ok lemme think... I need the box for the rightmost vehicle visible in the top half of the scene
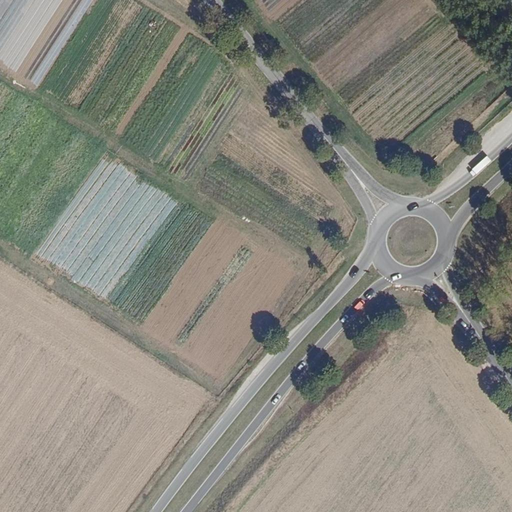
[470,156,492,176]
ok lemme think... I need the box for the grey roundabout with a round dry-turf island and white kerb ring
[345,178,475,304]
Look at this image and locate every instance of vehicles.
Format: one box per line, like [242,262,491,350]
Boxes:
[392,274,402,280]
[364,289,374,299]
[340,314,350,324]
[296,361,306,372]
[408,202,419,210]
[470,156,492,176]
[355,300,366,310]
[350,266,359,276]
[272,394,281,404]
[461,319,470,330]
